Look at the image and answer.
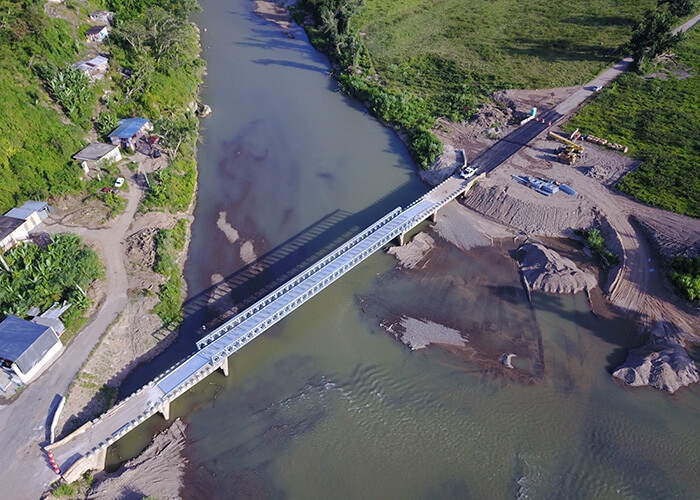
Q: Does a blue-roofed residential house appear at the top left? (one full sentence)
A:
Yes, a blue-roofed residential house can be seen at the top left.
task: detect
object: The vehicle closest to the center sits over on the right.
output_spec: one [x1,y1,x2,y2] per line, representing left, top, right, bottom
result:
[460,166,479,179]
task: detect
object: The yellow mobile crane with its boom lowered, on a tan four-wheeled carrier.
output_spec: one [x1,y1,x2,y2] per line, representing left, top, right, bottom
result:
[539,133,587,168]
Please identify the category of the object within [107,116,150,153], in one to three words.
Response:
house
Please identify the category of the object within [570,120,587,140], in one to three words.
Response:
vehicle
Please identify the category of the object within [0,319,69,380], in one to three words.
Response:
house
